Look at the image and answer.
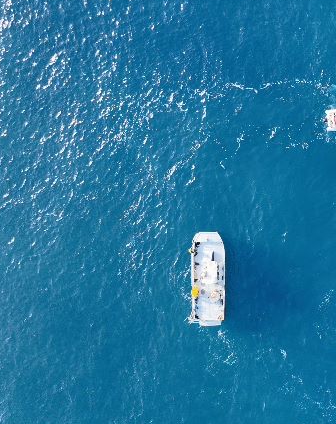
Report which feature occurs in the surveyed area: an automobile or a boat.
boat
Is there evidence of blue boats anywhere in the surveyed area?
No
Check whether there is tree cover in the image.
No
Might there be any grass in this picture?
No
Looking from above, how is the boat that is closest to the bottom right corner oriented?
from top to bottom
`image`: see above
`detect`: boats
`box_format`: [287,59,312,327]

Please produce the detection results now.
[189,233,227,327]
[321,109,336,132]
